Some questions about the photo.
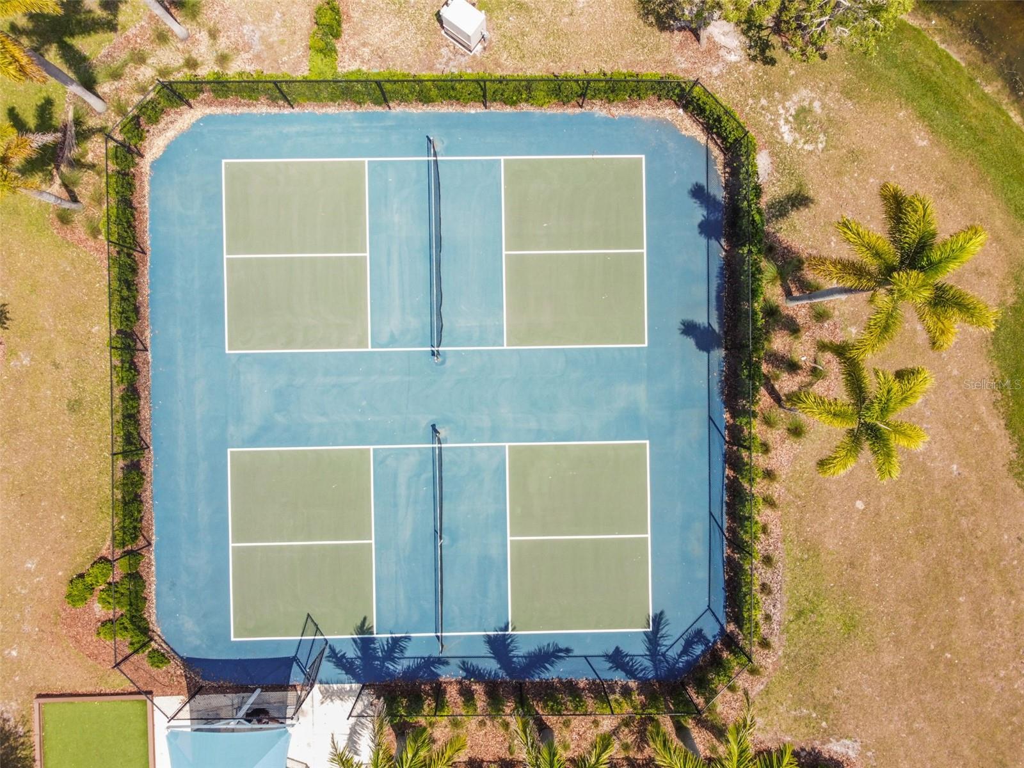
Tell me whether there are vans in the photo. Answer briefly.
No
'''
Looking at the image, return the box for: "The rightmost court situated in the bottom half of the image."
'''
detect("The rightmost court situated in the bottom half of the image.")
[227,441,652,641]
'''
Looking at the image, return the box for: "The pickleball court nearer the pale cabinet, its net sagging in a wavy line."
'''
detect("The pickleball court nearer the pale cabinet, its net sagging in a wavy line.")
[222,155,648,353]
